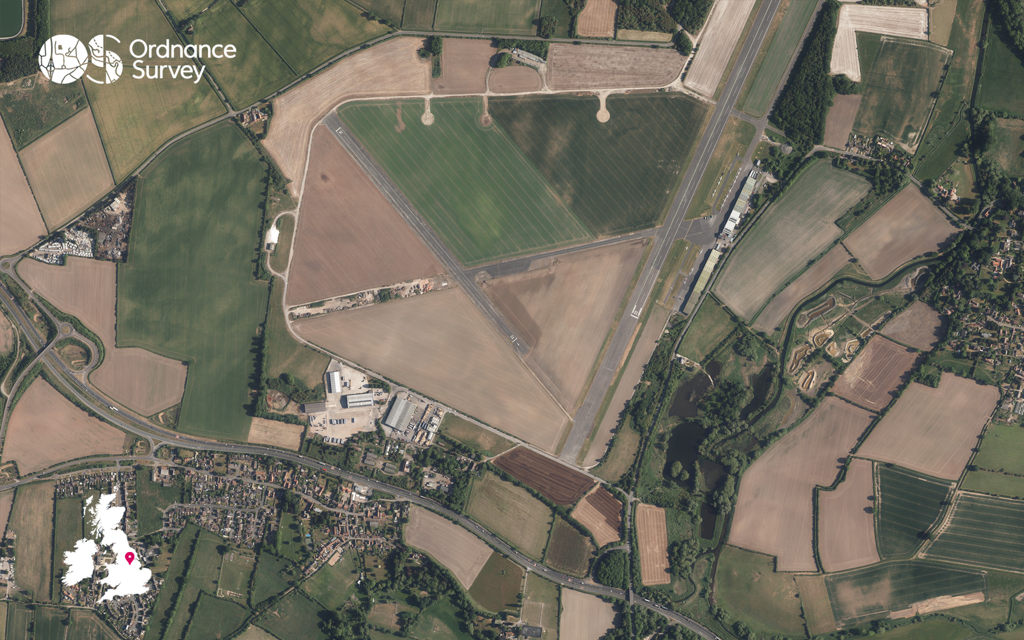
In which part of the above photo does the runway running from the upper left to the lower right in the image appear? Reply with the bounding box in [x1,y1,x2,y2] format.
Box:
[322,112,532,358]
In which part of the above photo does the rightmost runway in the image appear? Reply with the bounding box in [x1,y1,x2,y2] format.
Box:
[568,0,782,466]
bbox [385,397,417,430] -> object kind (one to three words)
building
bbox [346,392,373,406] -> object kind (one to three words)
building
